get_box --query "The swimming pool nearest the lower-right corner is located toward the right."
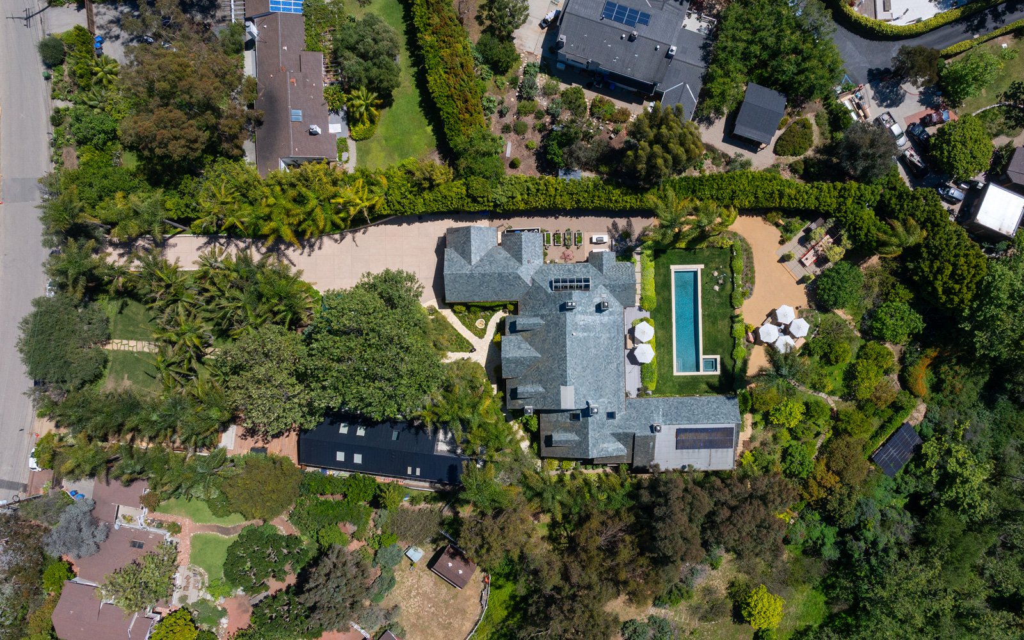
[671,265,720,375]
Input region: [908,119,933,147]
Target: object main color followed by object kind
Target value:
black car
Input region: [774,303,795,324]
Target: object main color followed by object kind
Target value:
white umbrella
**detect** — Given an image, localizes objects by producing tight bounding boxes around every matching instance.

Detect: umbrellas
[788,318,809,337]
[633,321,654,341]
[773,336,794,356]
[633,344,655,363]
[774,303,795,324]
[757,323,779,343]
